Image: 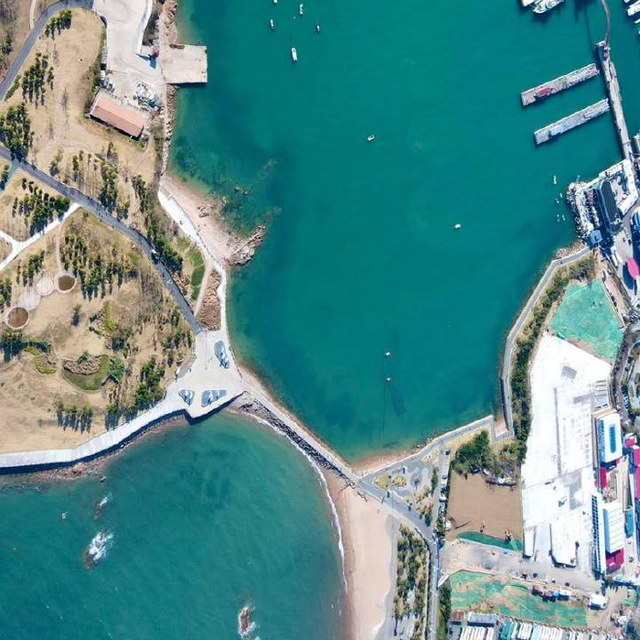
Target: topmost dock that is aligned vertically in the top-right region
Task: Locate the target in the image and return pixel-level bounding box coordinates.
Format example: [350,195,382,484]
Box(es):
[598,42,638,162]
